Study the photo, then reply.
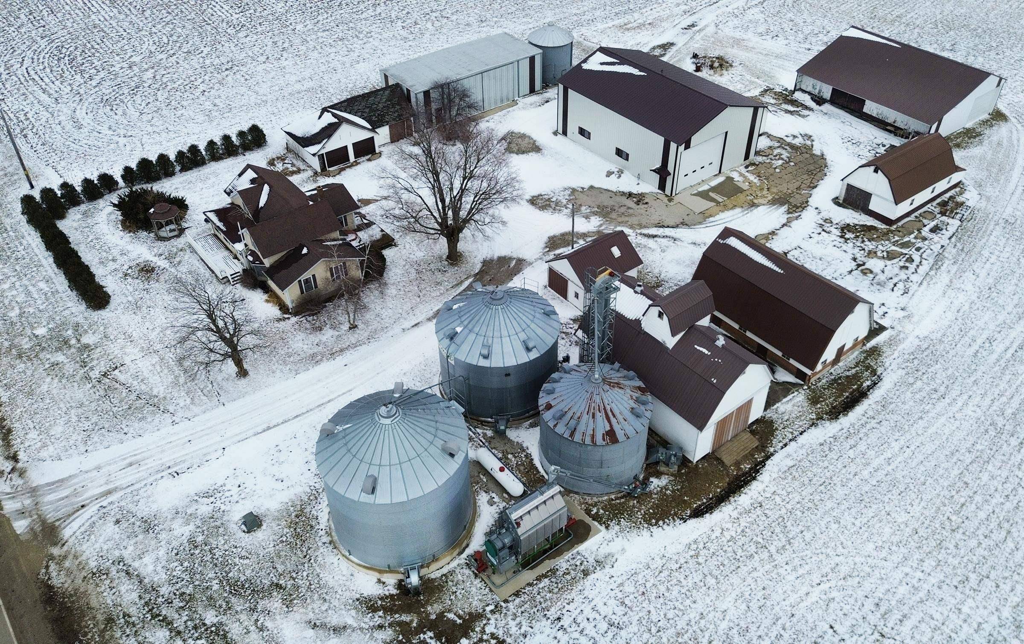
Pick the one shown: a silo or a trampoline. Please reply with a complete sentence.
It is a silo that can be seen here.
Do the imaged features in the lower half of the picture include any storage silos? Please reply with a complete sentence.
Yes, a storage silo appears in the lower half of the picture.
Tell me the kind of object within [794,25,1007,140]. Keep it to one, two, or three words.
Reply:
shed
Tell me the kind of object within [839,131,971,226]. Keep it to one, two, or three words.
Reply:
barn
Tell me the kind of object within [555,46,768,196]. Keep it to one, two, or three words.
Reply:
shed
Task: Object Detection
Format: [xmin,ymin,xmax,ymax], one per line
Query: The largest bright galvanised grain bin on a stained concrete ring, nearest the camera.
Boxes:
[315,384,478,575]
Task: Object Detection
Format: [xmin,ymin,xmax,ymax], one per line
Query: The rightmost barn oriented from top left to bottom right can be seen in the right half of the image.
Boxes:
[690,226,889,386]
